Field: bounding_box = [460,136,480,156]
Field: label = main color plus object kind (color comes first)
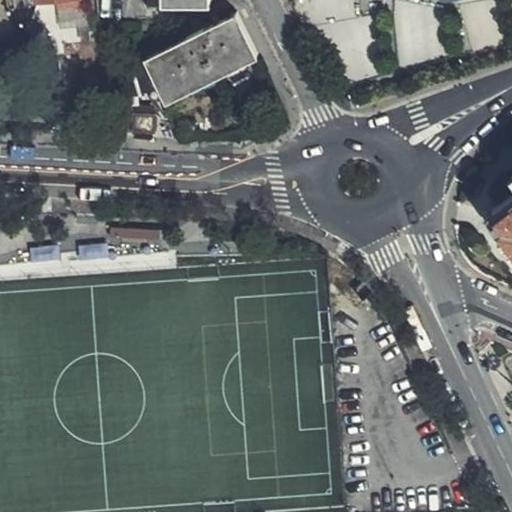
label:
white car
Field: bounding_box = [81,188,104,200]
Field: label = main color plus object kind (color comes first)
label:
white vehicle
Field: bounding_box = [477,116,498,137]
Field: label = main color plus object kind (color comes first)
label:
white car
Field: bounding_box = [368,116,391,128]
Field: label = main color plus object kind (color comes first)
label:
white vehicle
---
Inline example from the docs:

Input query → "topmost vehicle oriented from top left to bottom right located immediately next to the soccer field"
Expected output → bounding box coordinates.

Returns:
[336,312,358,330]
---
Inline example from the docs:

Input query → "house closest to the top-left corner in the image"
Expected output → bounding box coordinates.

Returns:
[32,0,93,52]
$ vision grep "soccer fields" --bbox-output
[0,258,344,512]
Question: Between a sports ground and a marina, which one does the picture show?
sports ground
